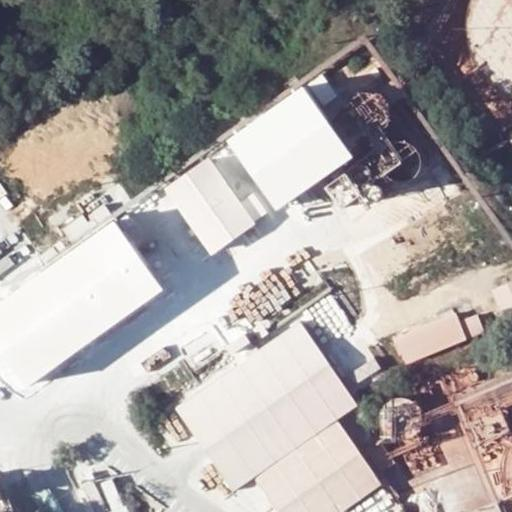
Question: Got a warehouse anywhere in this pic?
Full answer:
Yes, the picture does show a warehouse.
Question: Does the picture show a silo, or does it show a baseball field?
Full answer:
This aerial view contains a silo.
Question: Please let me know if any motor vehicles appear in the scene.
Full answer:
Yes, a motor vehicle is visible in the scene.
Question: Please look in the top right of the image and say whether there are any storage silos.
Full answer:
Yes, I can see a storage silo in the top right of the image.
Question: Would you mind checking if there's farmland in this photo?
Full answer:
No, there is no farmland in the image.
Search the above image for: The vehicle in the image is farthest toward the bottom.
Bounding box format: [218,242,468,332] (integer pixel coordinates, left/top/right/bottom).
[37,488,55,506]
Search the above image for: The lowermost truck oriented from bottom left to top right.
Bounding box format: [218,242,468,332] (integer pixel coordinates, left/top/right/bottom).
[140,342,178,372]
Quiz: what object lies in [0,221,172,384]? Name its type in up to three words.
warehouse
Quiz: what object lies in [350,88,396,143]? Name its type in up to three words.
silo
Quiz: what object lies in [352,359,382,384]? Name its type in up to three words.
shed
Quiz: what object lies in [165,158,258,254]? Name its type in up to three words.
building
